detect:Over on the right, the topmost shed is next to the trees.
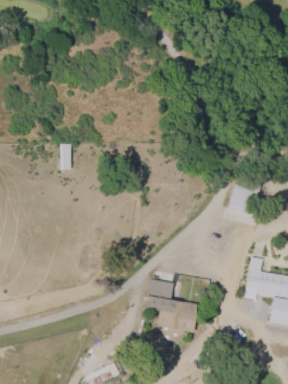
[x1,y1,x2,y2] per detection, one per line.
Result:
[230,184,260,214]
